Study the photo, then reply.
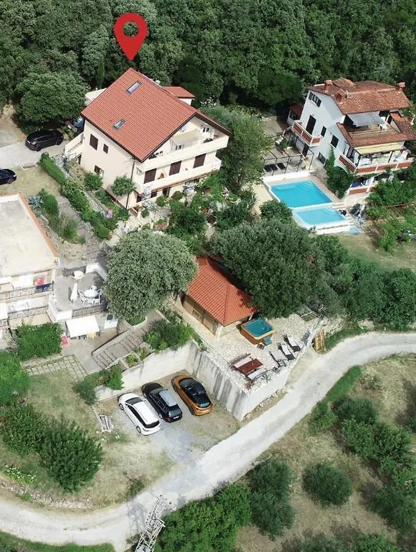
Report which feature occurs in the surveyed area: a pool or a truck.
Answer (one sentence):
This aerial view contains a pool.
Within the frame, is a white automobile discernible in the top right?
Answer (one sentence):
No, the scene shows no white automobile in the top right.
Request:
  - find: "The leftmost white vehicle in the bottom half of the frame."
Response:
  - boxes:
[120,386,163,435]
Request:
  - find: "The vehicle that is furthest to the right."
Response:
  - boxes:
[172,368,217,412]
